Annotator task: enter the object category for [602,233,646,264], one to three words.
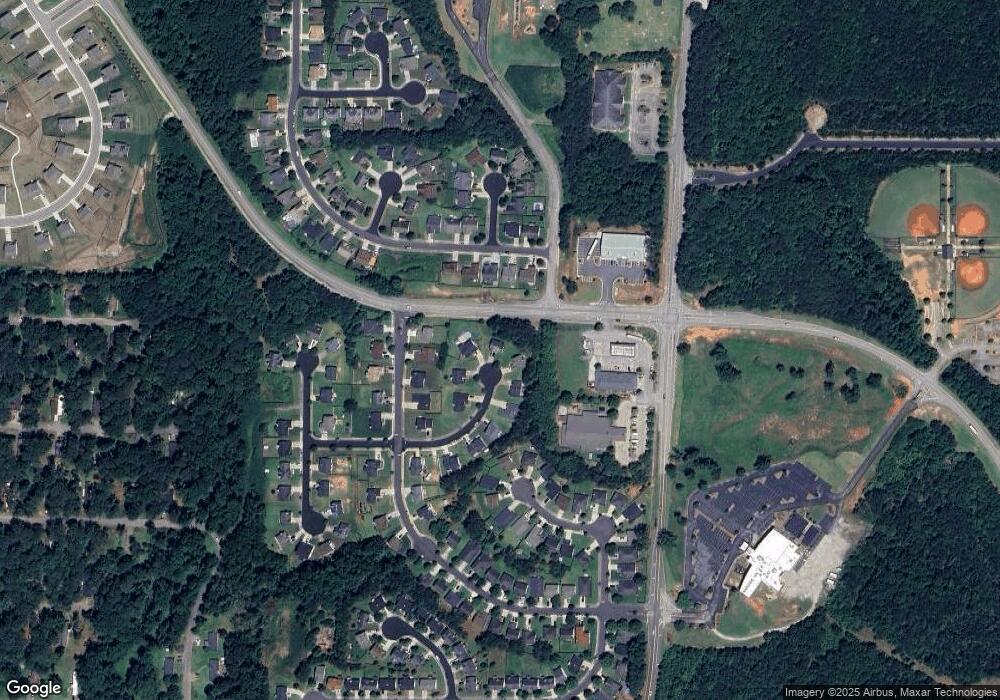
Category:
building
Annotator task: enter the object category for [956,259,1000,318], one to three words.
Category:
baseball field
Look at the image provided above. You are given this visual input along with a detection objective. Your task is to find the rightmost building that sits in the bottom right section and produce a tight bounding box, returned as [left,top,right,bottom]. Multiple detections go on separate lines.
[739,529,803,597]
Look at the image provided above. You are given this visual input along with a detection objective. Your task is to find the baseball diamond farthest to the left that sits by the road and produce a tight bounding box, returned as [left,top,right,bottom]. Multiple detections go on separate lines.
[869,165,939,238]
